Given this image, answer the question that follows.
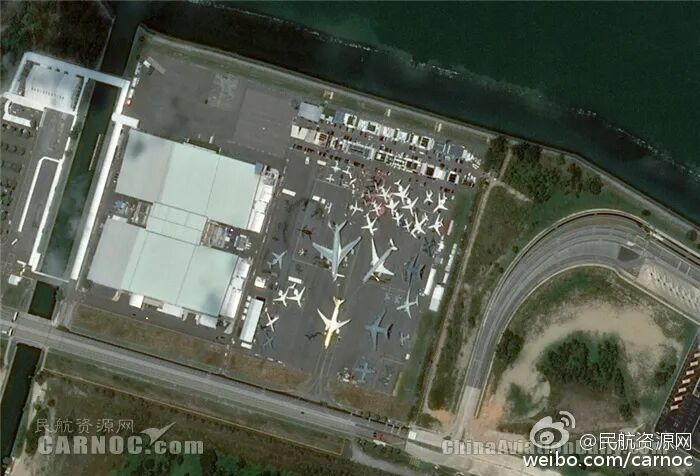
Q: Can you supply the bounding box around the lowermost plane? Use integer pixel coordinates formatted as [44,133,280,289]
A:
[353,362,375,380]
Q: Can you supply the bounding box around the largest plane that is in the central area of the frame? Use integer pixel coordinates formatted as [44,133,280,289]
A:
[313,220,360,279]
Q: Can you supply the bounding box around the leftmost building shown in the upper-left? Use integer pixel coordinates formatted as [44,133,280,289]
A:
[25,64,78,110]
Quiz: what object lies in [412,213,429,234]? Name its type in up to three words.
airplane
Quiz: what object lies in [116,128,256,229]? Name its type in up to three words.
building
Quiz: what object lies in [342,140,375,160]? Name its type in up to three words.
house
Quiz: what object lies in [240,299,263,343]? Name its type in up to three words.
building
